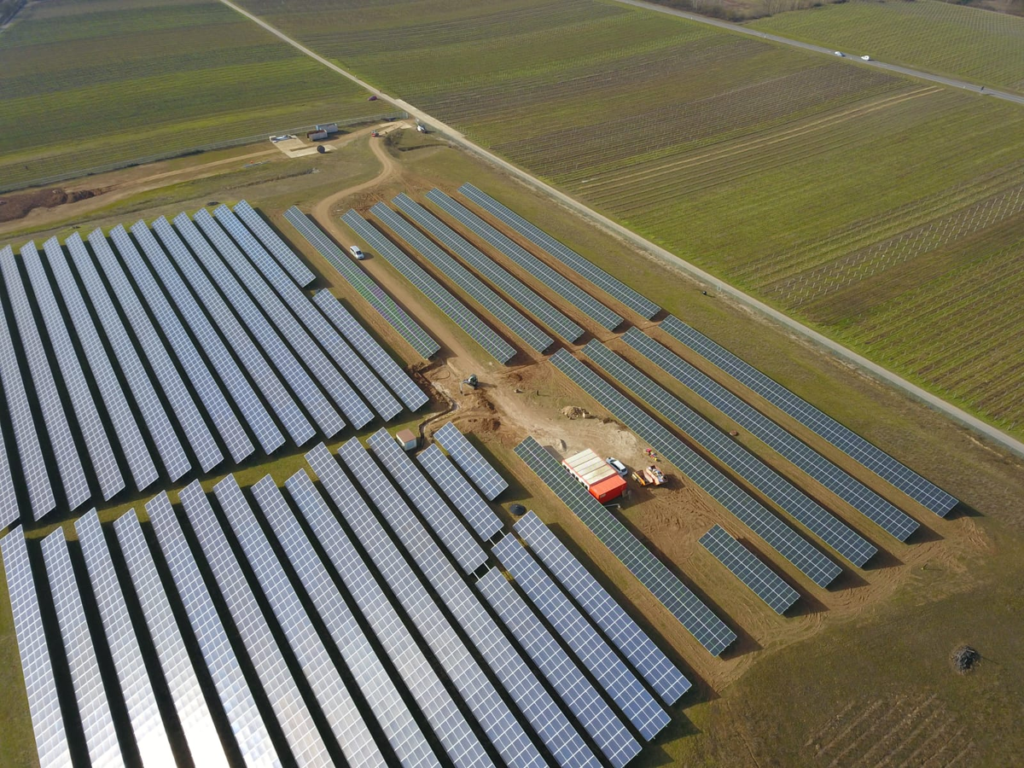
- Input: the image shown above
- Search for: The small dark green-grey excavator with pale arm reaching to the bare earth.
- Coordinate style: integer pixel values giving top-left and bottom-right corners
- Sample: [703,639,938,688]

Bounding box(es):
[462,376,480,398]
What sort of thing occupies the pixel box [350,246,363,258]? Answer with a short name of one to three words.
vehicle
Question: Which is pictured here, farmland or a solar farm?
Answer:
solar farm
